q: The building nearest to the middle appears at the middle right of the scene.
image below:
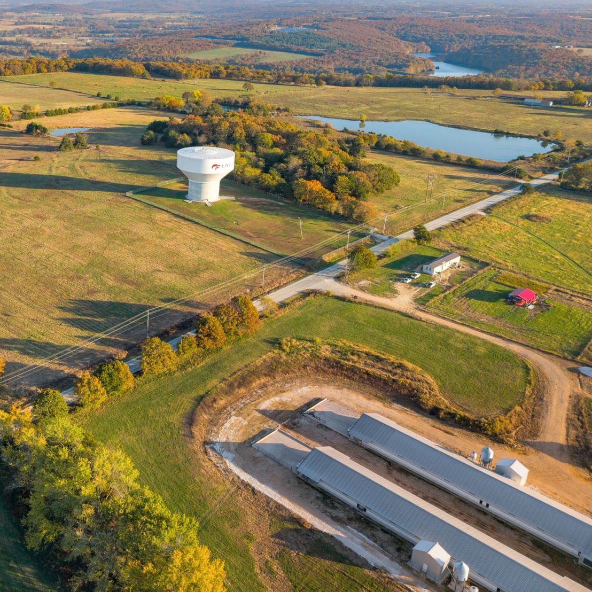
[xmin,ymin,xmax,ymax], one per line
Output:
[422,250,463,274]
